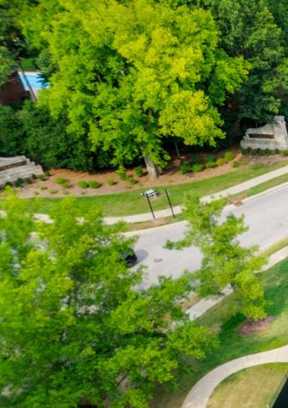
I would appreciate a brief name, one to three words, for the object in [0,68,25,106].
shed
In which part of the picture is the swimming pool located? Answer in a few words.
top left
